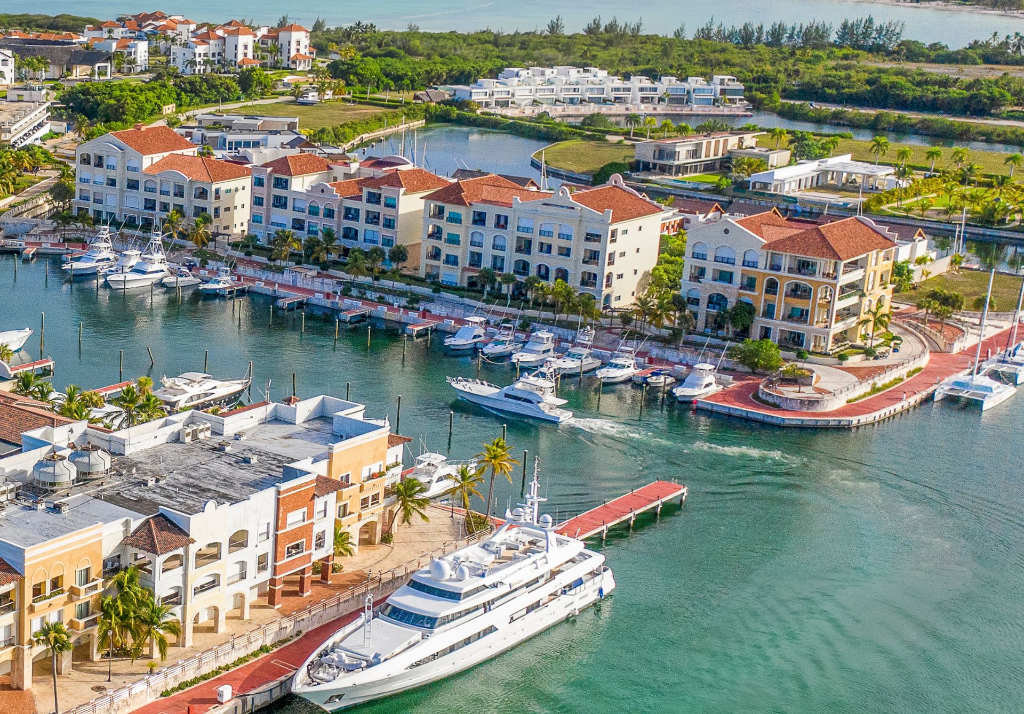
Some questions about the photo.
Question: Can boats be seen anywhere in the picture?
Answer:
Yes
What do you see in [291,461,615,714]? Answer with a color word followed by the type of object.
white boat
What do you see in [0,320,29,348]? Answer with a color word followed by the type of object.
white boat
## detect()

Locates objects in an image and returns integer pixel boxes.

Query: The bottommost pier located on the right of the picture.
[552,477,689,539]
